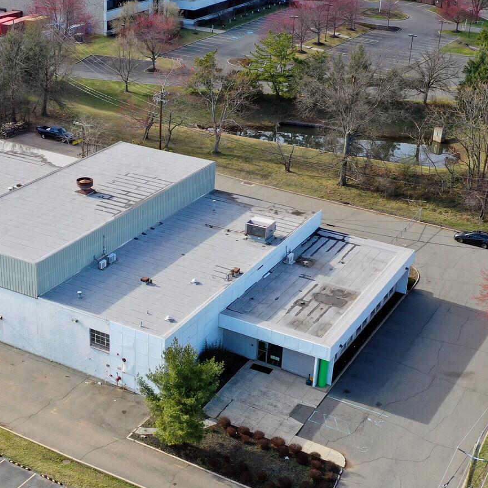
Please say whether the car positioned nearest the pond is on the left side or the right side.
right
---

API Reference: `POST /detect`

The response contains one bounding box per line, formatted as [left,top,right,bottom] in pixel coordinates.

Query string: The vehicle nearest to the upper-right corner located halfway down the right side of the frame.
[455,227,488,248]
